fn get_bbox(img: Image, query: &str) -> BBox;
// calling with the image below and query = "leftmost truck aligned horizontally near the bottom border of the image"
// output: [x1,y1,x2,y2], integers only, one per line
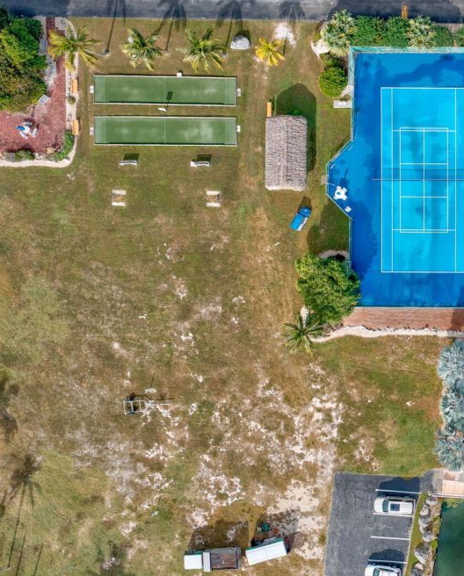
[183,550,239,575]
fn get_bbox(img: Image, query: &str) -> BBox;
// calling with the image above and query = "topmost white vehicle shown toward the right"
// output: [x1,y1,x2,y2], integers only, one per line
[374,495,415,515]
